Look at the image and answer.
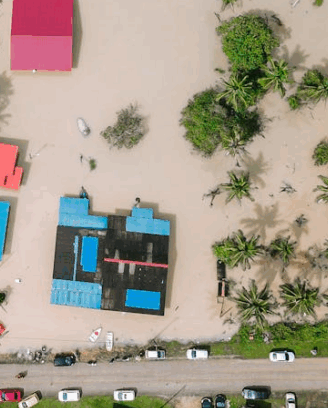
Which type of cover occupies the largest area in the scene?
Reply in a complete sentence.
For the most part, this view shows water.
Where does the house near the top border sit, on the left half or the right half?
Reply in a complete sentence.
You can find the house near the top border on the left side of the picture.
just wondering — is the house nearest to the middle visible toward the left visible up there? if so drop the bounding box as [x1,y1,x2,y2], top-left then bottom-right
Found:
[51,197,170,315]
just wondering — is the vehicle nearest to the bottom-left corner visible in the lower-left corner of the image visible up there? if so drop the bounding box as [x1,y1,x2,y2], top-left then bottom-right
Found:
[0,388,22,402]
